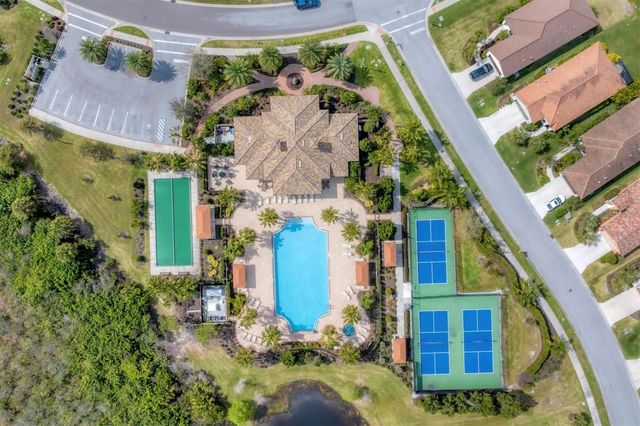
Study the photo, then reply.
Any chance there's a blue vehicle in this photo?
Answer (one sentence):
Yes, the frame does contain a blue vehicle.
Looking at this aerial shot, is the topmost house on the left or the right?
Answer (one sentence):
You can find the topmost house on the right side of the picture.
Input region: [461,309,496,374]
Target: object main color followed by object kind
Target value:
blue sports court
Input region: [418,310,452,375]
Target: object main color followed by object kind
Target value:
blue sports court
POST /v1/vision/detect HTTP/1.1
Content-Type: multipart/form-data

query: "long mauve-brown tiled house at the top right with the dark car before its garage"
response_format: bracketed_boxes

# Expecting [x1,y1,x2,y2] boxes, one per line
[489,0,601,77]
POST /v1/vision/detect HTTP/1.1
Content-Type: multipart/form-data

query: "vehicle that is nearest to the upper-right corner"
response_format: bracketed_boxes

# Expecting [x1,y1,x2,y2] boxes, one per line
[470,64,494,80]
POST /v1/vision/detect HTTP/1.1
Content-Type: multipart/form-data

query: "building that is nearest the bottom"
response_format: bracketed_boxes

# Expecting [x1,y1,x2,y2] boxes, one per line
[391,336,406,364]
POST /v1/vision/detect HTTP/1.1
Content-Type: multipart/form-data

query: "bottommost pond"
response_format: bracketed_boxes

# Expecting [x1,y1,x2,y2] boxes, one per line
[271,389,354,426]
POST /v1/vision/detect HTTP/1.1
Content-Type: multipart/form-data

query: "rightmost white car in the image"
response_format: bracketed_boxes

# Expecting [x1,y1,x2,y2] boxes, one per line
[542,193,566,210]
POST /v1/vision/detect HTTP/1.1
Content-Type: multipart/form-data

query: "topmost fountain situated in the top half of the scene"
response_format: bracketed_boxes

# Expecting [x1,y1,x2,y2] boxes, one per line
[286,71,304,89]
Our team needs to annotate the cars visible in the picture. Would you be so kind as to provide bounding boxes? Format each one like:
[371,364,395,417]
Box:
[470,64,494,80]
[542,193,566,210]
[294,0,320,8]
